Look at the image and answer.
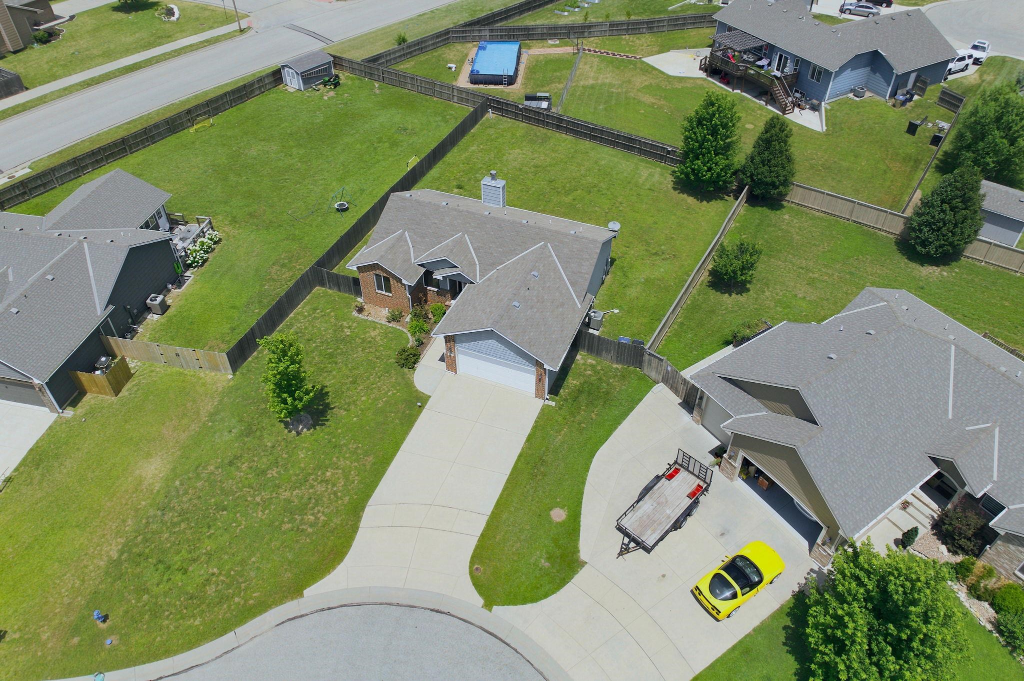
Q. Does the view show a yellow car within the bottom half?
Yes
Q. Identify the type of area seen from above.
residential area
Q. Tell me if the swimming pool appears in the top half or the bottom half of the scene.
top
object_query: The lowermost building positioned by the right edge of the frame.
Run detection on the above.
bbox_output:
[688,287,1024,598]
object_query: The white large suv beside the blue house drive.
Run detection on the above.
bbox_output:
[948,49,978,75]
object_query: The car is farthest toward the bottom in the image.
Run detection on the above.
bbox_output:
[696,541,788,617]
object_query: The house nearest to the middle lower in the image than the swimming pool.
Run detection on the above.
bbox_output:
[345,171,618,404]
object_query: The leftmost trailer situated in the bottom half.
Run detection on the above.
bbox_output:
[616,449,715,570]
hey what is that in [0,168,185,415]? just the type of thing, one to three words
house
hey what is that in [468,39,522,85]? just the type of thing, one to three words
swimming pool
